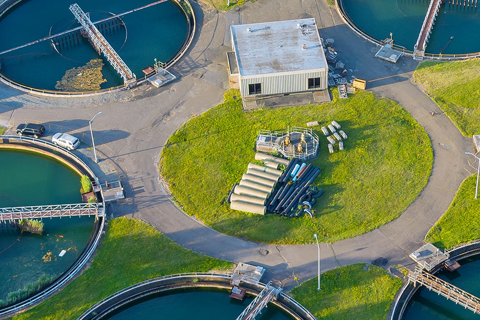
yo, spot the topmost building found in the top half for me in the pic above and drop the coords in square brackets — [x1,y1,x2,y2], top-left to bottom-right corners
[225,18,329,96]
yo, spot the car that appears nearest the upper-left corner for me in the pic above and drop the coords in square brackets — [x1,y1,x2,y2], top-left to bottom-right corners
[15,121,47,136]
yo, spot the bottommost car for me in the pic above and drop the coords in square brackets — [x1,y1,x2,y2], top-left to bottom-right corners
[50,134,81,151]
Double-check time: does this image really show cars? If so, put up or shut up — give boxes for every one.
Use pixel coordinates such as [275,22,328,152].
[15,121,47,136]
[50,134,81,151]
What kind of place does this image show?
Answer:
industrial area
